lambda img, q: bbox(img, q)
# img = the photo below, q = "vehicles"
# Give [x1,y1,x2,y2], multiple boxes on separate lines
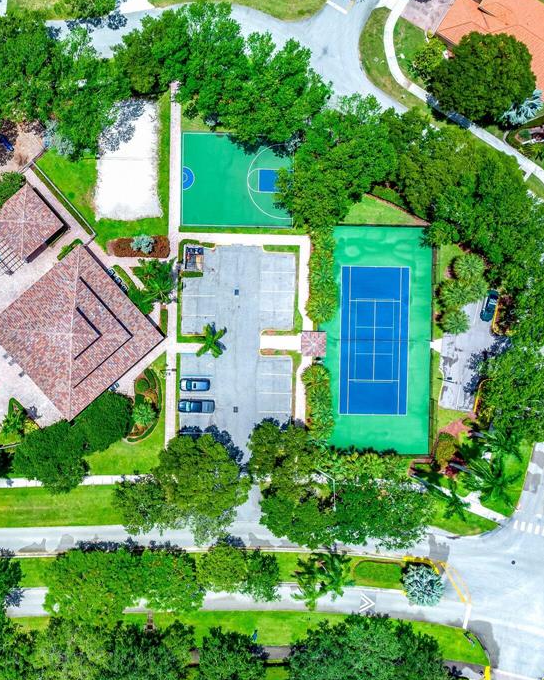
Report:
[477,291,497,320]
[180,378,210,392]
[178,399,215,414]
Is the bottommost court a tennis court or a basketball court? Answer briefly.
tennis court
